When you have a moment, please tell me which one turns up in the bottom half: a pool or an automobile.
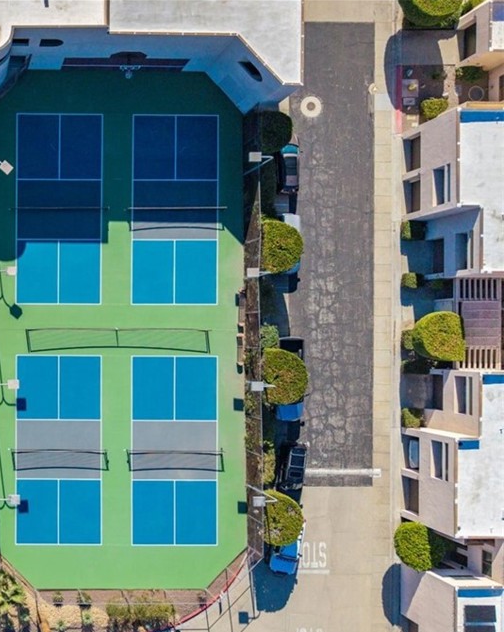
automobile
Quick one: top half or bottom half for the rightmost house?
top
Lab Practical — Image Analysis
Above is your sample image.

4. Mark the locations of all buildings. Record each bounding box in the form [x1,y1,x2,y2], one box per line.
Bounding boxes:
[402,540,504,632]
[0,0,303,115]
[402,370,504,537]
[457,4,504,102]
[402,111,504,280]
